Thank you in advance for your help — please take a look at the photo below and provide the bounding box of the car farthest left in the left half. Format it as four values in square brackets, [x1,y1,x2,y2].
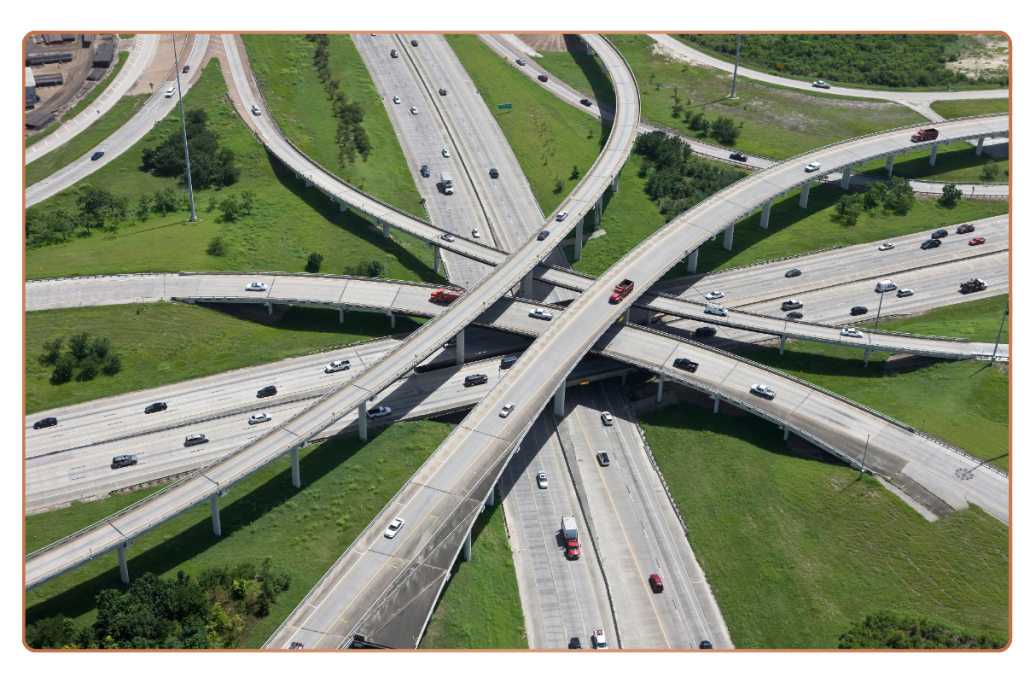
[33,416,57,430]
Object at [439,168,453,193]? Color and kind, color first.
white vehicle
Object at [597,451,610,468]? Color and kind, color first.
gray vehicle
